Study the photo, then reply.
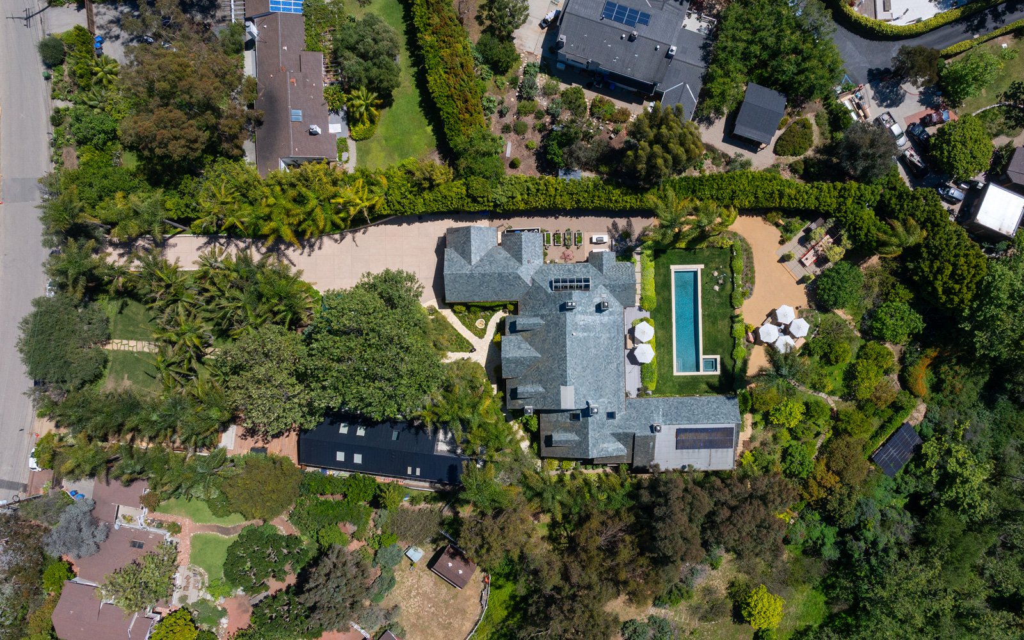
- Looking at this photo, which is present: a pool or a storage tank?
pool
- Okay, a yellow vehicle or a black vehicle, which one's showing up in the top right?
black vehicle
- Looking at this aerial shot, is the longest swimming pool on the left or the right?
right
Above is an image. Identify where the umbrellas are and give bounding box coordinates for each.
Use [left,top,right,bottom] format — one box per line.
[757,323,779,343]
[774,303,795,324]
[633,344,655,363]
[788,318,809,337]
[633,321,654,341]
[773,336,794,356]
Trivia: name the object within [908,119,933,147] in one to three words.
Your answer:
car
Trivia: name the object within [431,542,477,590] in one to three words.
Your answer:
shed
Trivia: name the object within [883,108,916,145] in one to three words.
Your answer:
truck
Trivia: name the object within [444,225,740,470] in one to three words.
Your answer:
house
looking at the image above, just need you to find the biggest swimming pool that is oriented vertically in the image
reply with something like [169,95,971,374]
[671,265,720,375]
